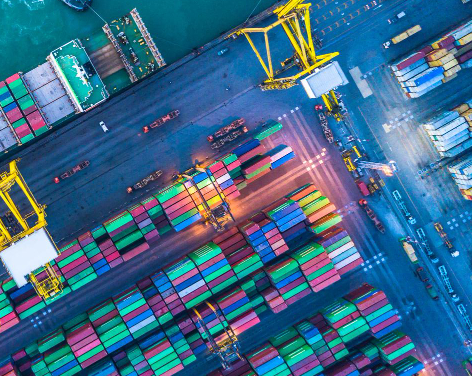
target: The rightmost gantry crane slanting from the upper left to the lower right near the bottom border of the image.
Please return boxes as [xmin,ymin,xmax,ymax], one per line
[189,296,245,367]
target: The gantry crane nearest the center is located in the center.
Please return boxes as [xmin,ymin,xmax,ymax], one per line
[180,157,243,230]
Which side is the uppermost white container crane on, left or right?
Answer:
left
